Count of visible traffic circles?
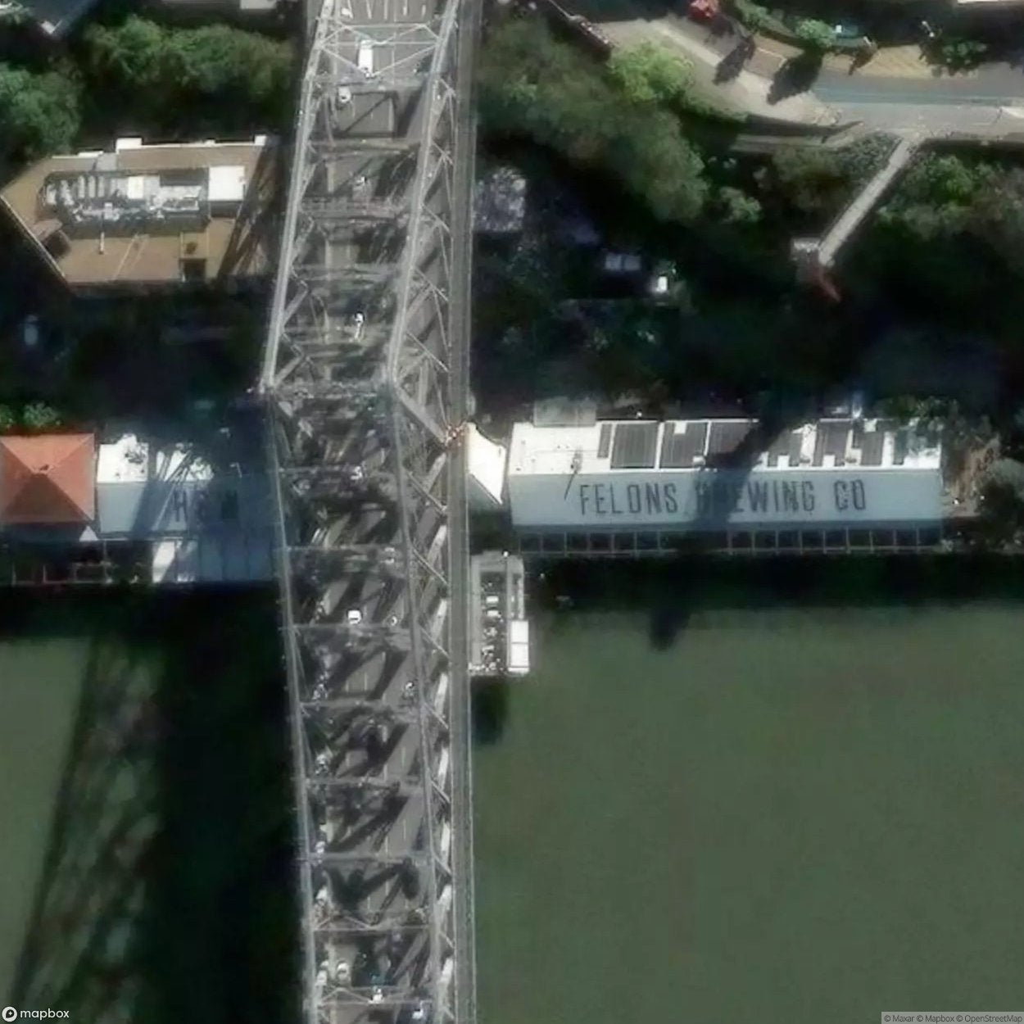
zero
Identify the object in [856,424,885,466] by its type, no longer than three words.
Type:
solar panel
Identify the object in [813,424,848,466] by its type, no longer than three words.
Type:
solar panel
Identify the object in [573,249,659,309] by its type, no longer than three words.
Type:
building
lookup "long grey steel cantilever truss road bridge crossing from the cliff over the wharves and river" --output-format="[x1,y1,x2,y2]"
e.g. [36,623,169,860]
[258,0,483,1024]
